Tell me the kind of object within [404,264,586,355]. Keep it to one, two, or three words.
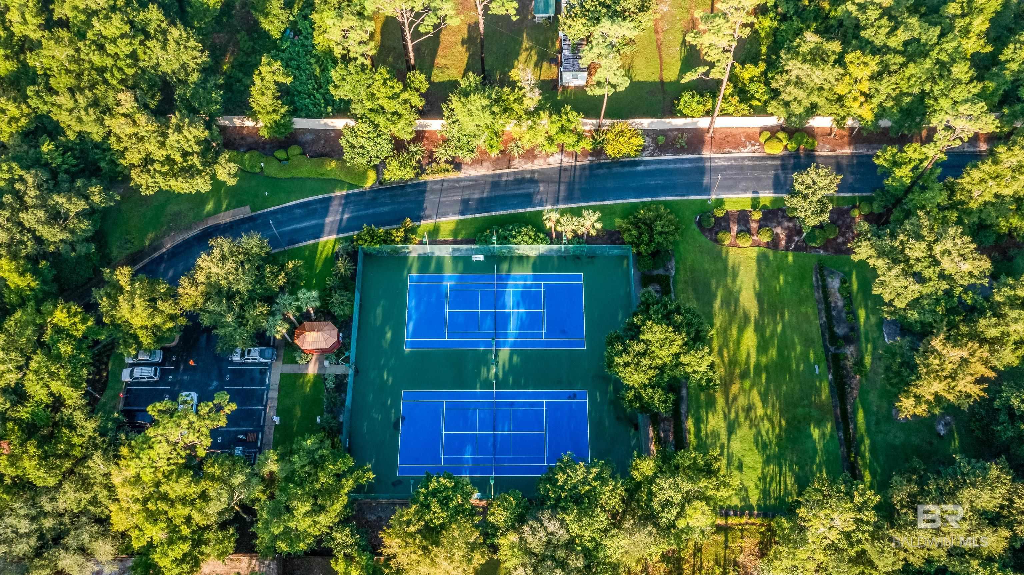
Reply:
tennis court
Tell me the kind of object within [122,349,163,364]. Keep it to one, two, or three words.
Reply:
car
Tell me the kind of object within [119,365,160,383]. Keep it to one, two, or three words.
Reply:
car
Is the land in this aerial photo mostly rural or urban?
rural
